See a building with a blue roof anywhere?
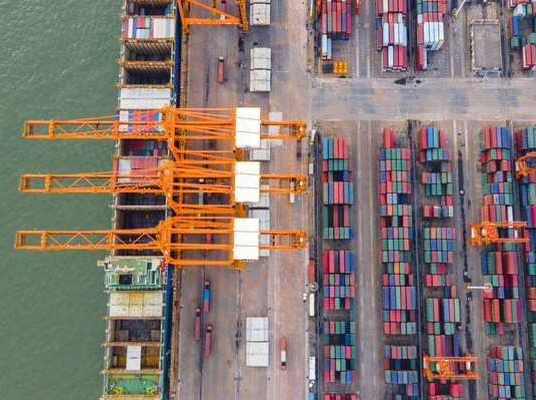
No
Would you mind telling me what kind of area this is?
port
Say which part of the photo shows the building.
top right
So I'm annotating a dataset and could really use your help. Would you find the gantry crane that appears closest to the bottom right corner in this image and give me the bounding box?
[419,349,479,379]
